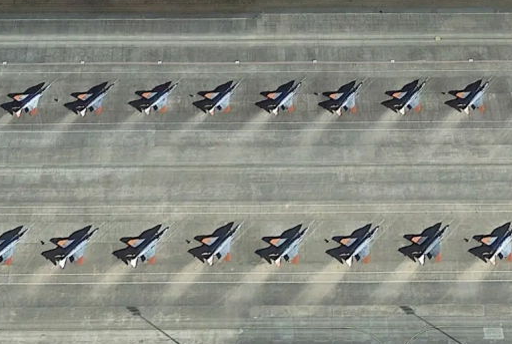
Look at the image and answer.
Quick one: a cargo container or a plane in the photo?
plane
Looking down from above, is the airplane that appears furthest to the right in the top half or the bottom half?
bottom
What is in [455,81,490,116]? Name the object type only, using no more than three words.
airplane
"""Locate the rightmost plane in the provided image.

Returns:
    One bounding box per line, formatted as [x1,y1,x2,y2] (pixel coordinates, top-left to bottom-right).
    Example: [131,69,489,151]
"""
[481,230,512,267]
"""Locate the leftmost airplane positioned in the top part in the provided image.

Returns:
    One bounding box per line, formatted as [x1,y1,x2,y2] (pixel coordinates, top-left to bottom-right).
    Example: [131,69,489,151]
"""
[7,84,49,120]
